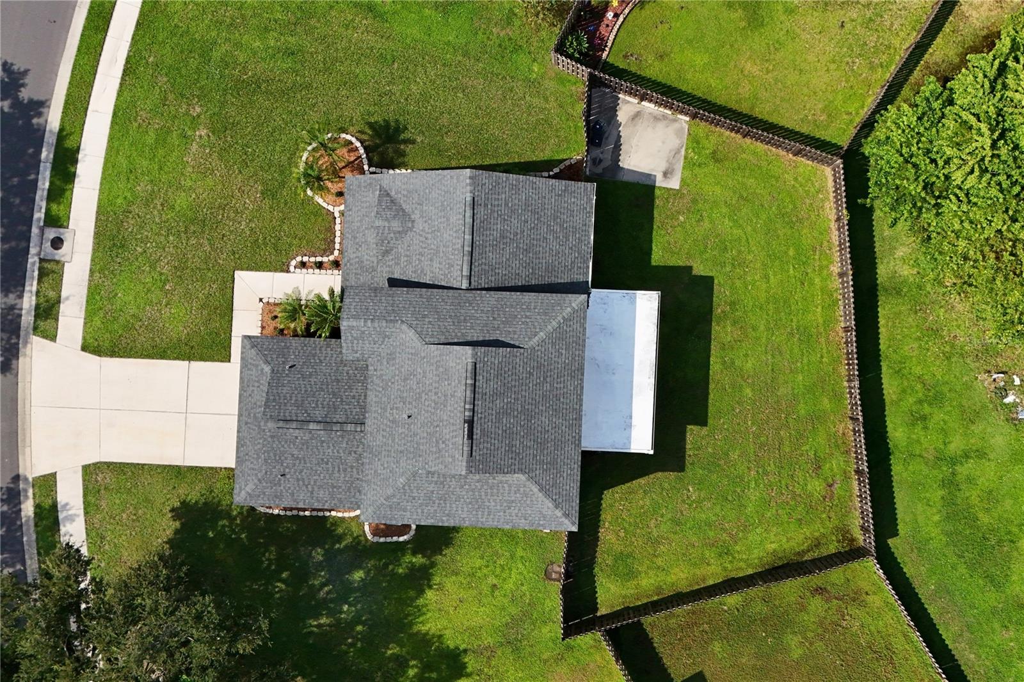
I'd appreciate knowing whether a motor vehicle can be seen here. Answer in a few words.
No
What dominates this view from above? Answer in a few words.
grass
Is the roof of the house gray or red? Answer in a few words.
gray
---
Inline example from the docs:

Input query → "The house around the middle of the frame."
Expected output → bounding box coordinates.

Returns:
[233,168,597,532]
